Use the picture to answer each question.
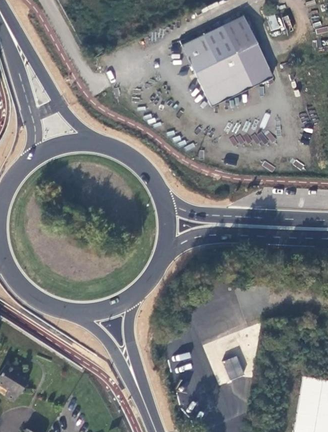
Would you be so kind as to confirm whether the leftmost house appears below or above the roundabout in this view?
below it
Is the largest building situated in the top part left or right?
right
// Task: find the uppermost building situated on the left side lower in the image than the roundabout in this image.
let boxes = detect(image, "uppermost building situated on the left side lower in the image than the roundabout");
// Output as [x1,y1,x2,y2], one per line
[0,374,24,402]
